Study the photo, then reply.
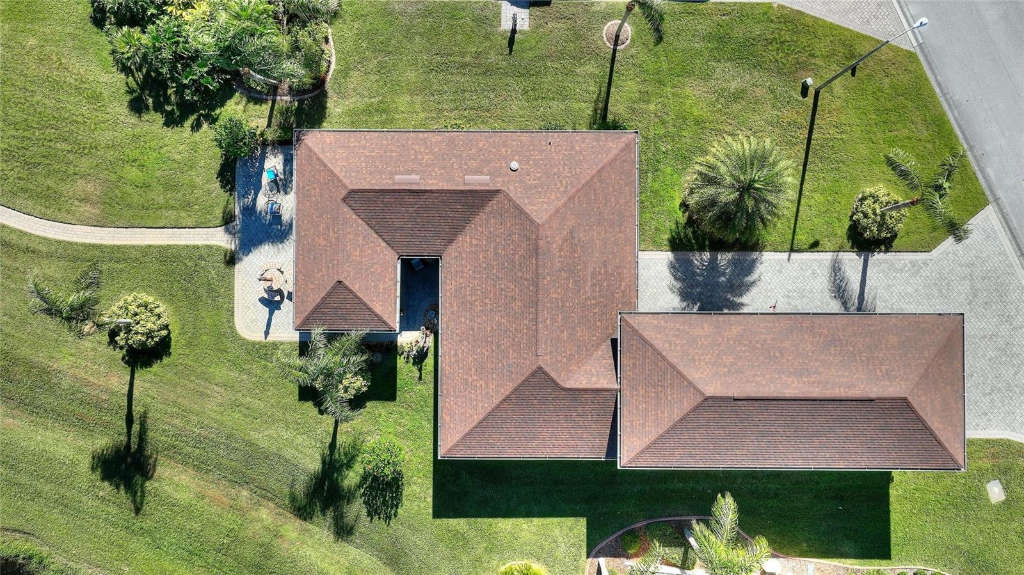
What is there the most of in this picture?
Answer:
grass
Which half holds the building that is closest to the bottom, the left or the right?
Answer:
right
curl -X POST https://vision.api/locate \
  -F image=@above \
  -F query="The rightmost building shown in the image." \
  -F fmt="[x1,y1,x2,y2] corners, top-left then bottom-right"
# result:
[617,311,967,472]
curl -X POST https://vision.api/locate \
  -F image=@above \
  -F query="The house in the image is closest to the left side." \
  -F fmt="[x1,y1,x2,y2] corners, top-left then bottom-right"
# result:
[293,129,638,460]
